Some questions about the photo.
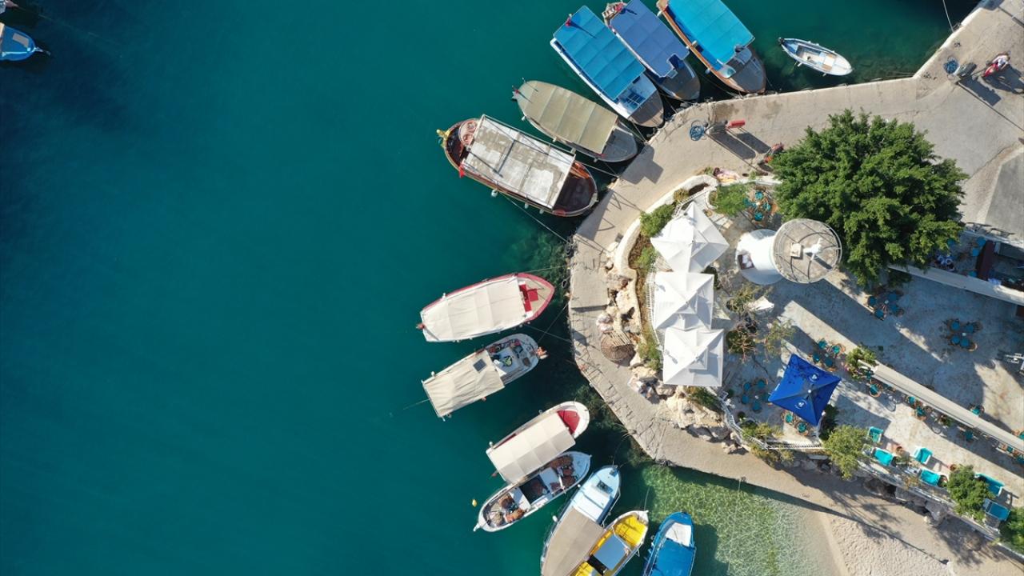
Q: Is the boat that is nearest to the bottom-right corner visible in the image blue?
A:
Yes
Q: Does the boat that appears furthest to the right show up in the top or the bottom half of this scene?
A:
top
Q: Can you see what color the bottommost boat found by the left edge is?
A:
blue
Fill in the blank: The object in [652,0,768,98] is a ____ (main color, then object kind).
blue boat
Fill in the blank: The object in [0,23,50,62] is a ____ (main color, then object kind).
blue boat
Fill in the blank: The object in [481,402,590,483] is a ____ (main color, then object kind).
white boat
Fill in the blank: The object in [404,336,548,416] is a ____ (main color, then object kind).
white boat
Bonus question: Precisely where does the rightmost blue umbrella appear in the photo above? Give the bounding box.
[767,353,841,425]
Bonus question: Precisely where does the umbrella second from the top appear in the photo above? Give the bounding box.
[651,272,715,330]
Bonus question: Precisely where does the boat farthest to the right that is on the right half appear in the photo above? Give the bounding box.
[774,38,854,77]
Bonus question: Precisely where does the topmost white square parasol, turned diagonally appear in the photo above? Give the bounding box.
[650,201,730,273]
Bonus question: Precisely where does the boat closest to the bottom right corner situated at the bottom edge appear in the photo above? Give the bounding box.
[645,510,696,576]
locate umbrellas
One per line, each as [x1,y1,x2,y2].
[767,353,841,425]
[650,201,730,273]
[651,272,715,330]
[662,326,724,387]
